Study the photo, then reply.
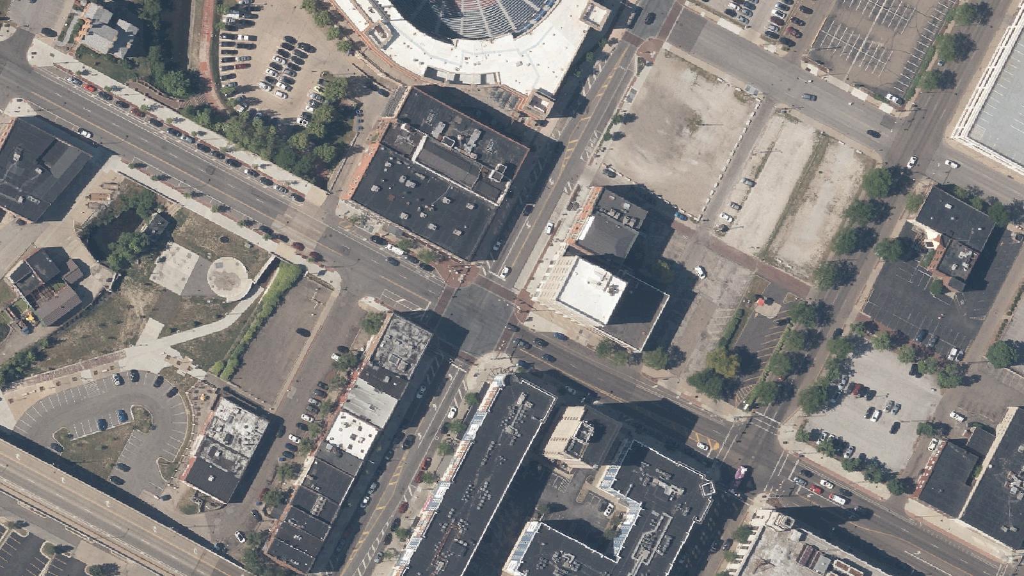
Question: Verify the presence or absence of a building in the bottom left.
Yes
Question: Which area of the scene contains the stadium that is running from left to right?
top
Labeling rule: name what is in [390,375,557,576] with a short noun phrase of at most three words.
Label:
building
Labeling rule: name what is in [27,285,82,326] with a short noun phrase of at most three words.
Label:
barn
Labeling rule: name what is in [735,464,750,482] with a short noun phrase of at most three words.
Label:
vehicle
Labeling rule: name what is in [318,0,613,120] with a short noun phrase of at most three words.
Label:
stadium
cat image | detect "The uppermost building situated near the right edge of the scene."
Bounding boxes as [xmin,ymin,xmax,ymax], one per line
[950,4,1024,179]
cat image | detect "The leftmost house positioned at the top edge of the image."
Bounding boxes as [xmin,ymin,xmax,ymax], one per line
[72,2,139,58]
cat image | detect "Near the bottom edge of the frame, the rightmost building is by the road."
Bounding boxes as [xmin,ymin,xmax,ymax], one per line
[951,407,1024,558]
